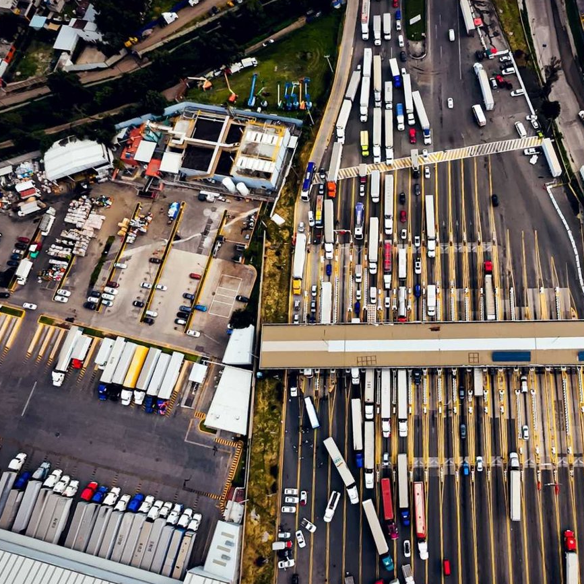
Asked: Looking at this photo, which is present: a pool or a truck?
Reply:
truck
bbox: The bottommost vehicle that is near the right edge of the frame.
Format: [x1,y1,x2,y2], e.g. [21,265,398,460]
[564,530,578,584]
